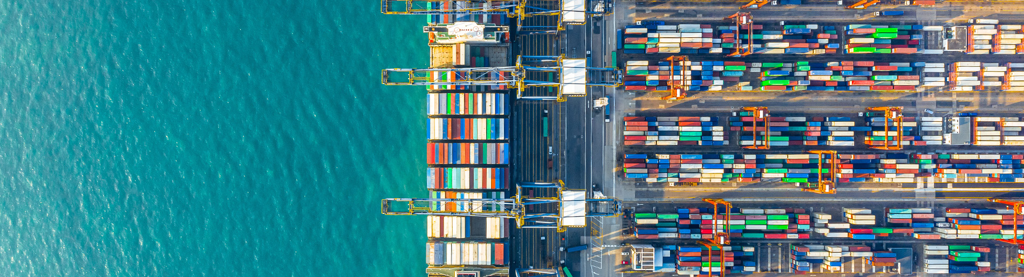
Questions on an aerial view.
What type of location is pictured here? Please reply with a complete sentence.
It's a port.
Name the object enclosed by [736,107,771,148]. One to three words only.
crane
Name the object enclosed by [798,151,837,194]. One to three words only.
crane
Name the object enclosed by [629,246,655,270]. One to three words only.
building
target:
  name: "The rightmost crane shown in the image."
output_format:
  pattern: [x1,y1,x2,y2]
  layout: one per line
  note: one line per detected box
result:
[983,201,1024,245]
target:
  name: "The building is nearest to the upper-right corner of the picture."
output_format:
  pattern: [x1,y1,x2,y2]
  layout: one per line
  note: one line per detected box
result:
[936,26,968,52]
